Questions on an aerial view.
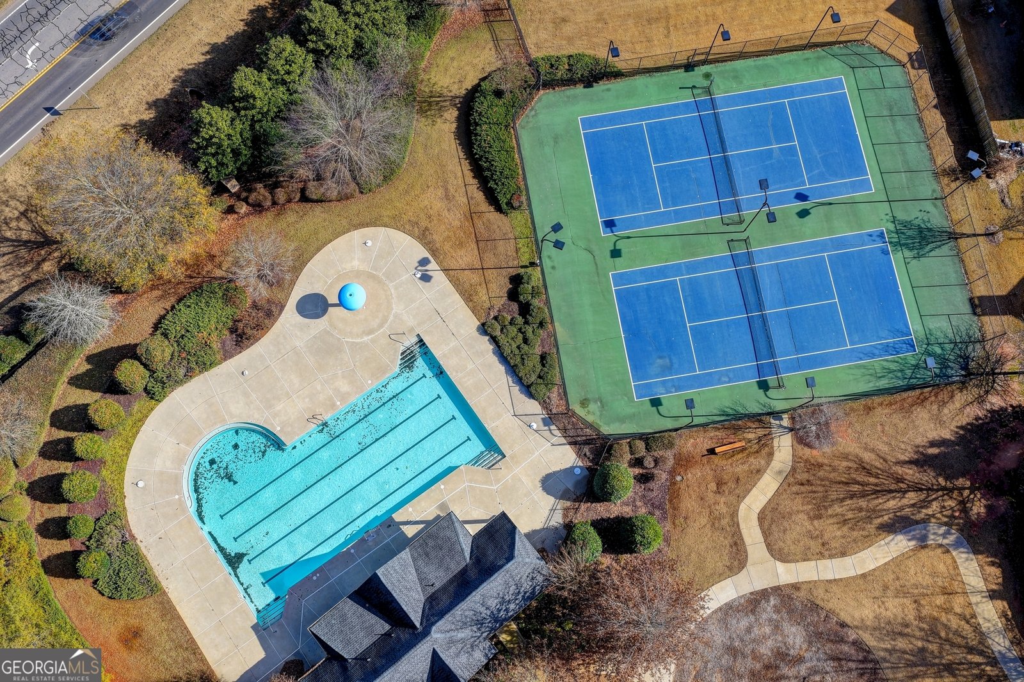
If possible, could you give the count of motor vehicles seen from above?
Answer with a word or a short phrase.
one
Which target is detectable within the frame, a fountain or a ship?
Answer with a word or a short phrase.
fountain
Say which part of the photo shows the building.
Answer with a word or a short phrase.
bottom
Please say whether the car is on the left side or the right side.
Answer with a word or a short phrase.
left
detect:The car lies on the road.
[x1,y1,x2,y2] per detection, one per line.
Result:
[82,6,134,52]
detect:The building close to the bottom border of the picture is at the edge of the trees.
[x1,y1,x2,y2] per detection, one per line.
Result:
[301,509,552,682]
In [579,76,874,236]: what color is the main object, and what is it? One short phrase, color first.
blue tennis court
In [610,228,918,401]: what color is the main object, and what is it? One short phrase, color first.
blue tennis court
